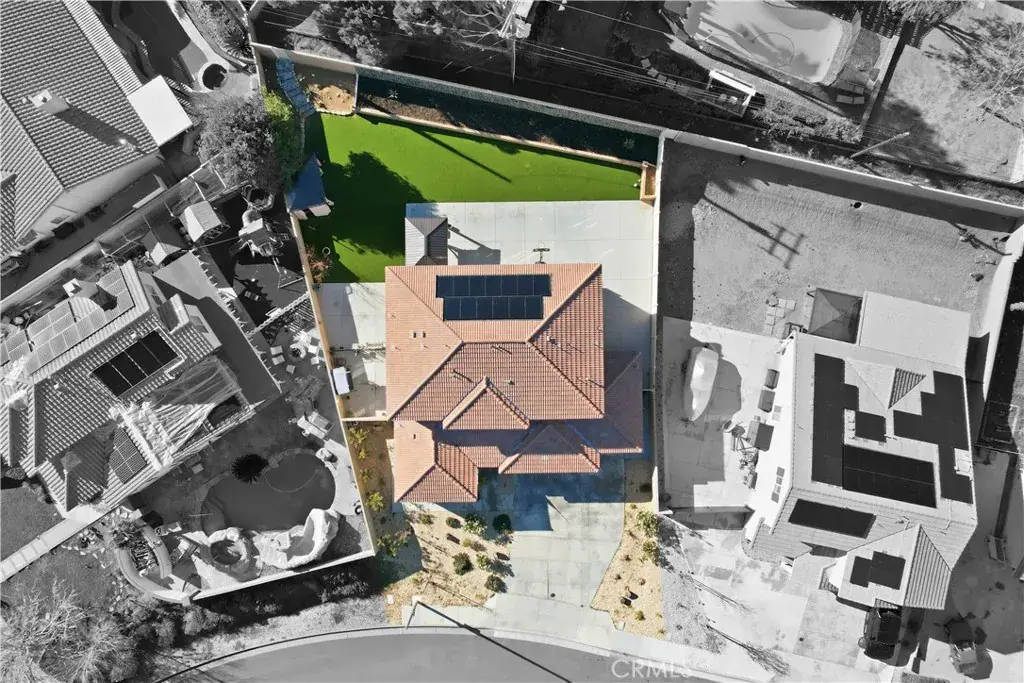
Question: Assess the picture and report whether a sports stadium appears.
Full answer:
No, I can't see a single sports stadium in this photo.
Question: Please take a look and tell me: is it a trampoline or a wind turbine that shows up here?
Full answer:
There is a trampoline in the scene.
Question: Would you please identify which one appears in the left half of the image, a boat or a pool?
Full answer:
There is a pool in the left half of the image.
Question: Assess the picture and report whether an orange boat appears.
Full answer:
No, this view has no orange boat in it.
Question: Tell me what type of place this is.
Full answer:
The picture captures a residential area.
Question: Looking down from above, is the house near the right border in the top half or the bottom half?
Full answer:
The bottom half of the photo is where the house near the right border is.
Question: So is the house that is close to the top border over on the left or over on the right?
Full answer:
It is on the left.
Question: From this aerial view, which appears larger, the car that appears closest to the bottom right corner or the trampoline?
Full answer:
The trampoline is smaller than the car.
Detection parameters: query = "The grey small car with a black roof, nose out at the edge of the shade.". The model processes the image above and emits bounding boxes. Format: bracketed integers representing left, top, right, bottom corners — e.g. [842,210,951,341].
[938,610,985,674]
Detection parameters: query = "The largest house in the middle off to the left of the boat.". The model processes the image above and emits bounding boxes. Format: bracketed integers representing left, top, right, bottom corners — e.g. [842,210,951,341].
[385,262,643,505]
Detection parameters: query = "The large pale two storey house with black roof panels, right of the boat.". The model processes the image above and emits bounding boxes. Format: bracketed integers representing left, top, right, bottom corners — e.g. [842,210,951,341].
[743,332,978,610]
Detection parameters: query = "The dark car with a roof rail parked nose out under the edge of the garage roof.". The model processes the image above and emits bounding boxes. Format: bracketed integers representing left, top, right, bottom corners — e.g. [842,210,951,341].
[862,605,907,660]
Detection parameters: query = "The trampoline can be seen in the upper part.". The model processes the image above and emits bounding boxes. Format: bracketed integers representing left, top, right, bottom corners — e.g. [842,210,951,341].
[239,178,277,212]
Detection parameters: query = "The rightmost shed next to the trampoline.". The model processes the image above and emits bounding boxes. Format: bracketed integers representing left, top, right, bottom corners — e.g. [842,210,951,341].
[288,157,343,219]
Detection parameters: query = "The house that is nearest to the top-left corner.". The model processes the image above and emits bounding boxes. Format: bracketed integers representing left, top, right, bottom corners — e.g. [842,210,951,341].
[0,0,172,244]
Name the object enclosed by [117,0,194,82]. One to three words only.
swimming pool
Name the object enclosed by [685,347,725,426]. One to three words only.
boat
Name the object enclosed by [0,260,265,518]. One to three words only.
house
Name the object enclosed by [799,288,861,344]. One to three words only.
gazebo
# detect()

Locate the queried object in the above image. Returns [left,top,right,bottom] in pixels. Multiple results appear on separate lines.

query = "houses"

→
[0,0,172,244]
[385,262,643,505]
[743,332,978,610]
[0,260,265,518]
